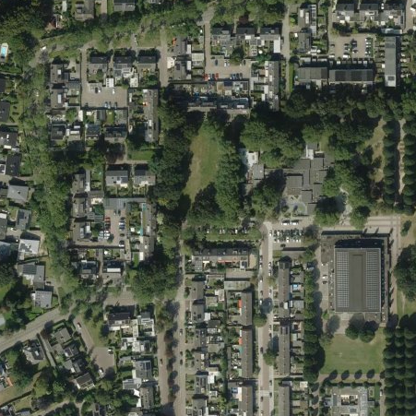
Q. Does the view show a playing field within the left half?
No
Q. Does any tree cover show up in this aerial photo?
Yes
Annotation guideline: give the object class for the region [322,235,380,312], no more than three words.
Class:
building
